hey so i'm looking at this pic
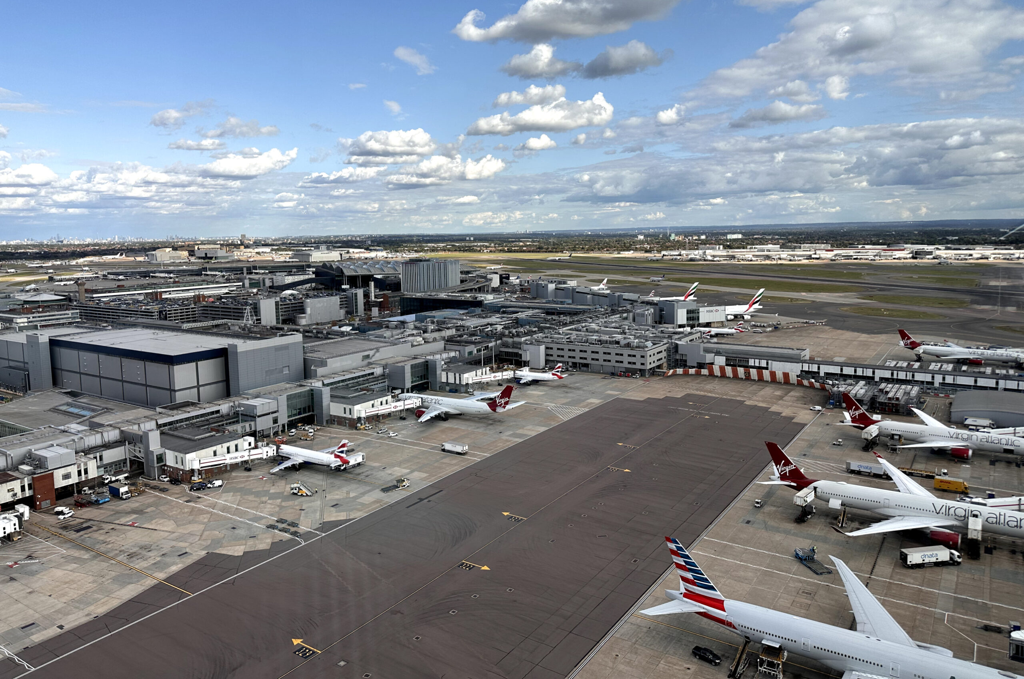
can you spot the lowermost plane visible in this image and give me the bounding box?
[652,538,1024,679]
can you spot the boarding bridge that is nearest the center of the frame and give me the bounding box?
[466,369,519,392]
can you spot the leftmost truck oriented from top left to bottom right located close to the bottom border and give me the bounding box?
[692,646,721,668]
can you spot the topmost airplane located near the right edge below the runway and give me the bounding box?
[889,328,1024,364]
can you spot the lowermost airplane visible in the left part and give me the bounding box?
[277,442,362,471]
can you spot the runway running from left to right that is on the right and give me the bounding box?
[512,257,1024,298]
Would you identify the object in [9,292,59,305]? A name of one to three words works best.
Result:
building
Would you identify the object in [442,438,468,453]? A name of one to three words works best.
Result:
vehicle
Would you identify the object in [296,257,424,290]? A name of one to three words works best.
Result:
building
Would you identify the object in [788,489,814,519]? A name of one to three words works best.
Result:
truck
